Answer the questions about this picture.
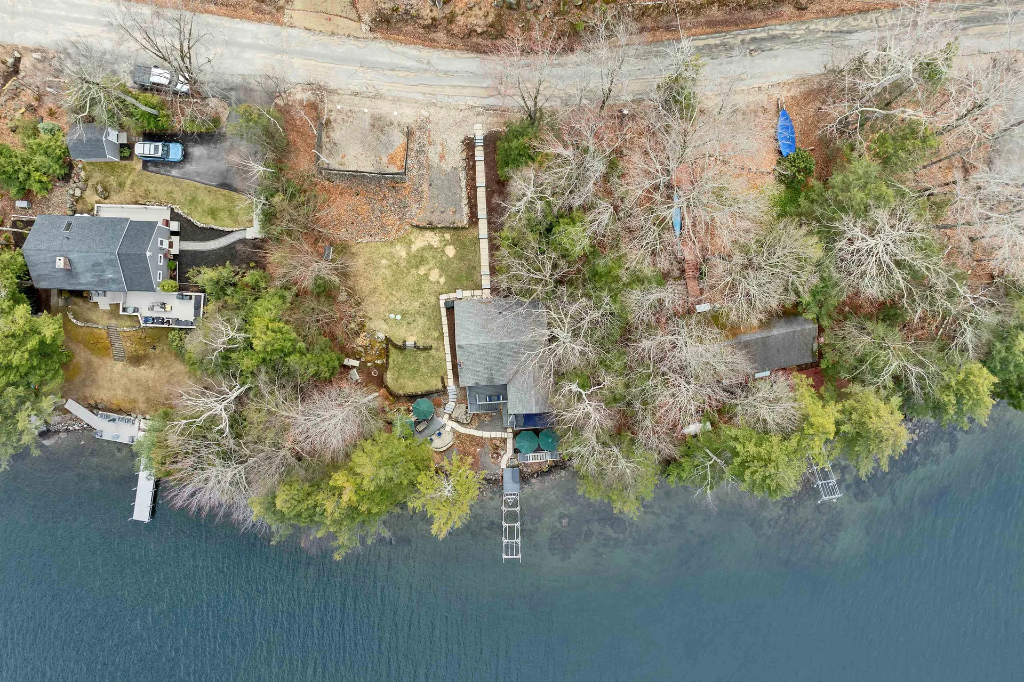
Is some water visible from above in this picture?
Yes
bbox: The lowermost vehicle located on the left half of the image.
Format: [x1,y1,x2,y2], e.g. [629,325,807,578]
[128,137,182,163]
